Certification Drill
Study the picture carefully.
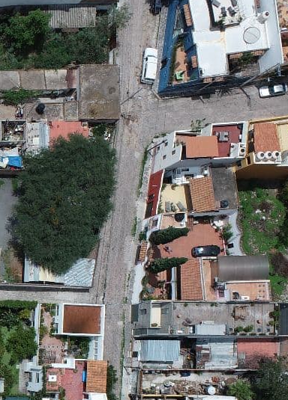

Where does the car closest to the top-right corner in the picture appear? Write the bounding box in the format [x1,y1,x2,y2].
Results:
[258,82,287,97]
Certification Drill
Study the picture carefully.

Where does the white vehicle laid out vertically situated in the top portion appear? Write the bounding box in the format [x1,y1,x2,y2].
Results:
[142,48,158,83]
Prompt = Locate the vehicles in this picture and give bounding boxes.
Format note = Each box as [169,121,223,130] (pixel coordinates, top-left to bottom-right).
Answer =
[151,0,164,16]
[142,48,158,83]
[258,82,287,97]
[190,244,219,257]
